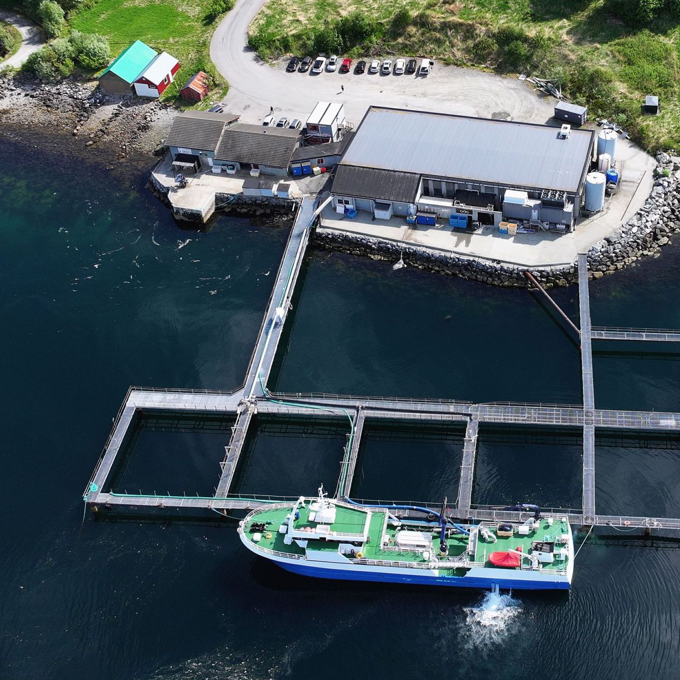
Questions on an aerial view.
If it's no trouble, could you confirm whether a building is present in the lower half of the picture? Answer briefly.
No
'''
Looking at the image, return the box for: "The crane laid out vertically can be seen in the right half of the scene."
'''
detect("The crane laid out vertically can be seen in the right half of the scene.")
[436,497,449,562]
